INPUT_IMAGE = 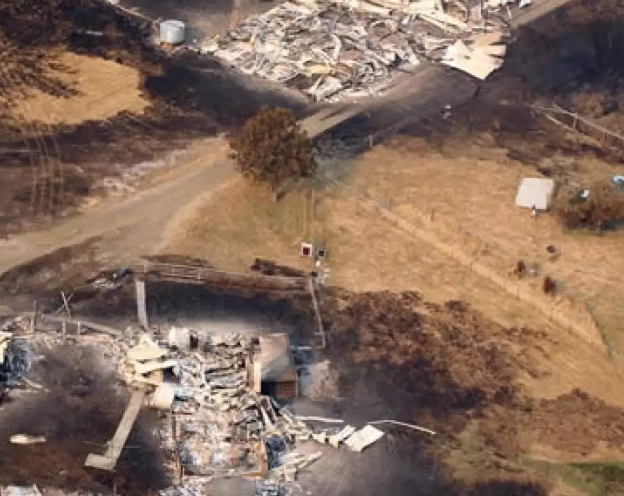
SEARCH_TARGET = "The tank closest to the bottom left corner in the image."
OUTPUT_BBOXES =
[153,383,173,412]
